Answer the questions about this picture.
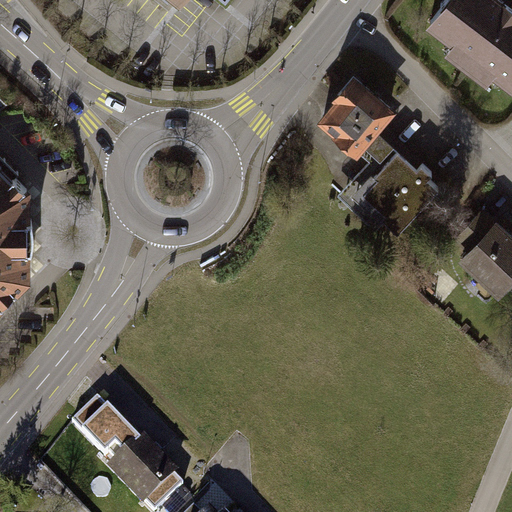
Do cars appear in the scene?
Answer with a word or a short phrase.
Yes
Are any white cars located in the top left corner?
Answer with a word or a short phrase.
Yes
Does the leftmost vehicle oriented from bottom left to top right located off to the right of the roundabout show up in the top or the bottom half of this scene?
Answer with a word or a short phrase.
top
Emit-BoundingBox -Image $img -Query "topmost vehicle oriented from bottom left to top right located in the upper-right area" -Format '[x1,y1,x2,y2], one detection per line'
[400,118,422,143]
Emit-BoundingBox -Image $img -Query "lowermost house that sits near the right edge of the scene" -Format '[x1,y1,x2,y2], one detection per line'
[460,231,512,304]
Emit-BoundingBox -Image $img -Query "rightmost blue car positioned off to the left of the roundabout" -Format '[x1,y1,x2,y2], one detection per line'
[66,98,86,118]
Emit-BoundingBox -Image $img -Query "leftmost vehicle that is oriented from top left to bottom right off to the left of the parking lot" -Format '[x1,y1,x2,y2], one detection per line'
[10,24,30,44]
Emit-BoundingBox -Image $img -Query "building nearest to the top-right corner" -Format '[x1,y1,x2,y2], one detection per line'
[428,0,512,96]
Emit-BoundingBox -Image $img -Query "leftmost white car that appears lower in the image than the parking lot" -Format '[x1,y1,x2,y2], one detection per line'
[105,97,126,114]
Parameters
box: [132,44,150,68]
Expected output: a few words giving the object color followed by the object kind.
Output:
black car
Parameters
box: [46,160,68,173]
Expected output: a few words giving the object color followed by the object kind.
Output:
black vehicle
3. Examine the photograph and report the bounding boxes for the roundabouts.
[106,110,243,246]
